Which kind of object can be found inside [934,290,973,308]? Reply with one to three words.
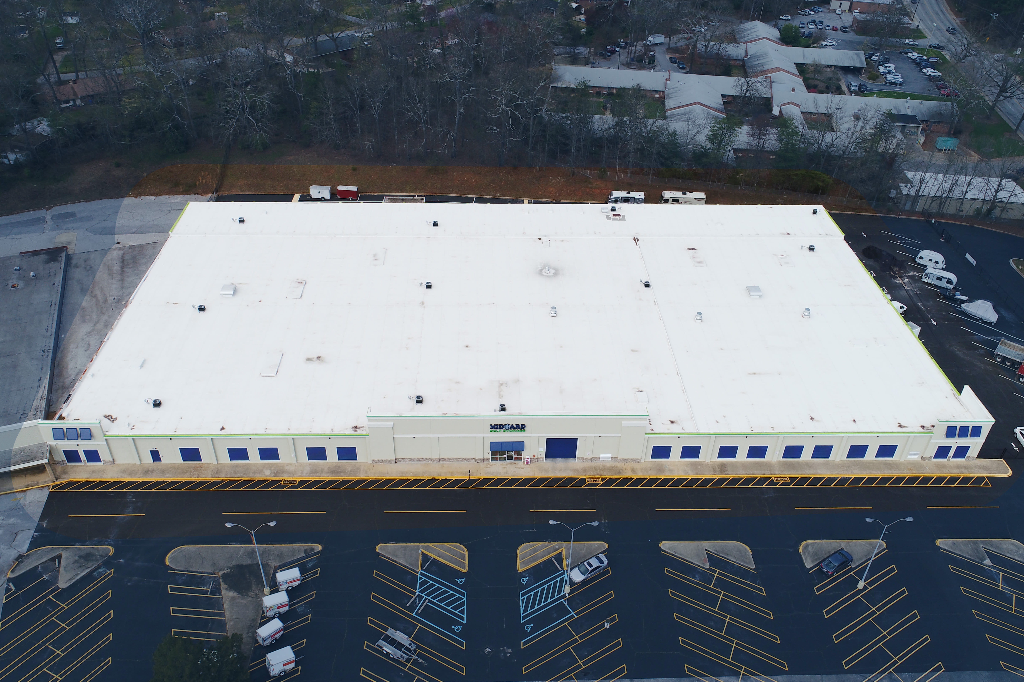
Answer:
vehicle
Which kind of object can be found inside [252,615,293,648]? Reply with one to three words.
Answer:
trailer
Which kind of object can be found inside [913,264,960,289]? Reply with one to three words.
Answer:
vehicle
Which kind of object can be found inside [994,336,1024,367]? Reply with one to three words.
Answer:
truck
